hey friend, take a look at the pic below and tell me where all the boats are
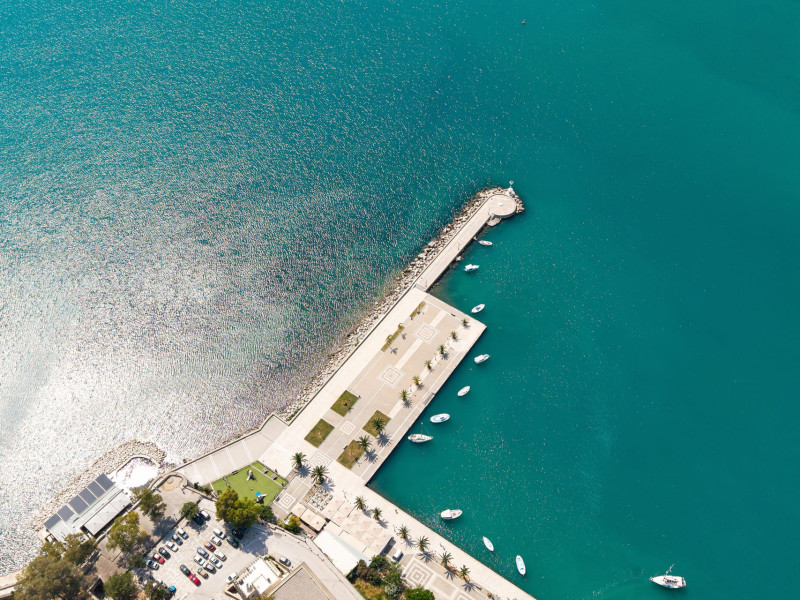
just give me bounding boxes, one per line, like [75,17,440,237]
[512,548,527,577]
[483,536,495,552]
[464,262,480,271]
[471,303,486,312]
[649,570,688,588]
[440,507,466,520]
[473,352,493,362]
[430,412,454,421]
[457,385,472,395]
[408,425,433,441]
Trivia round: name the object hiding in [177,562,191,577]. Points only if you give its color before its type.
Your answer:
gray car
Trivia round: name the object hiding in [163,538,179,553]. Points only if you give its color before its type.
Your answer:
white car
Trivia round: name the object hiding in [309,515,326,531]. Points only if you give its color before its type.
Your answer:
white umbrella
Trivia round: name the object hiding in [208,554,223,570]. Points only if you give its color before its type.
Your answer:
white car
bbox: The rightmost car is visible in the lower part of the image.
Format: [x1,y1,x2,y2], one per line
[390,546,405,562]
